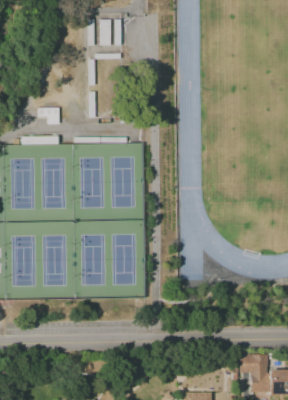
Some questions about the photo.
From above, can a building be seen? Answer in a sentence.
Yes, a building appears in the view.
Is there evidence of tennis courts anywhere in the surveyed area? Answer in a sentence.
Yes, this view includes a tennis court.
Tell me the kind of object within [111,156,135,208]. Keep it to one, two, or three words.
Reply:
tennis court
